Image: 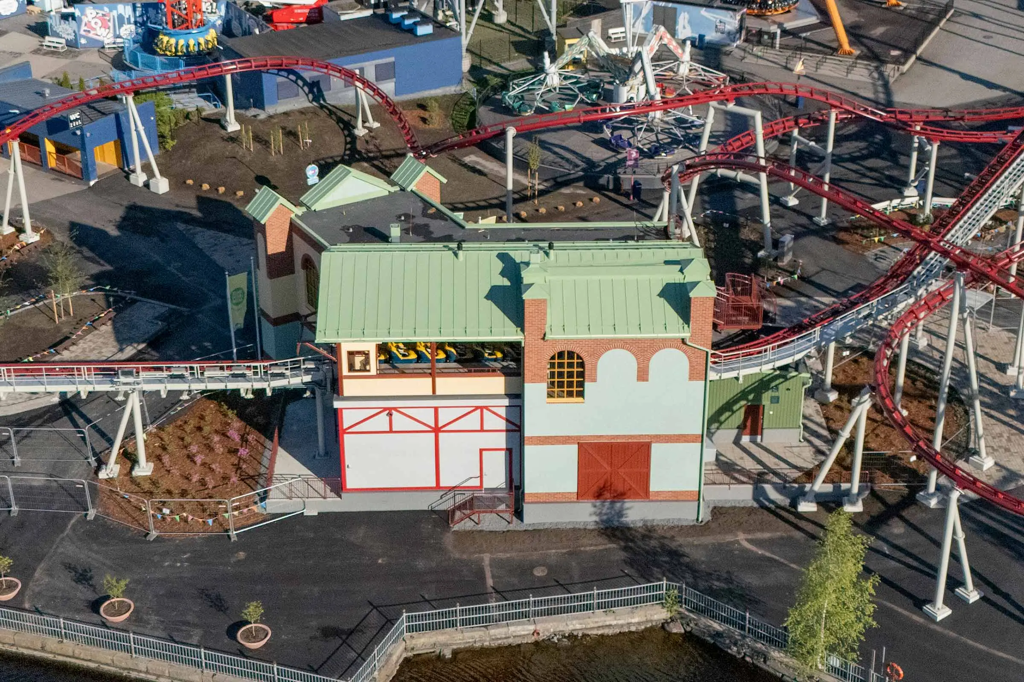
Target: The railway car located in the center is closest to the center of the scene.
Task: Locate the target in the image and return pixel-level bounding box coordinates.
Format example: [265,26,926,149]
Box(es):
[479,342,514,366]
